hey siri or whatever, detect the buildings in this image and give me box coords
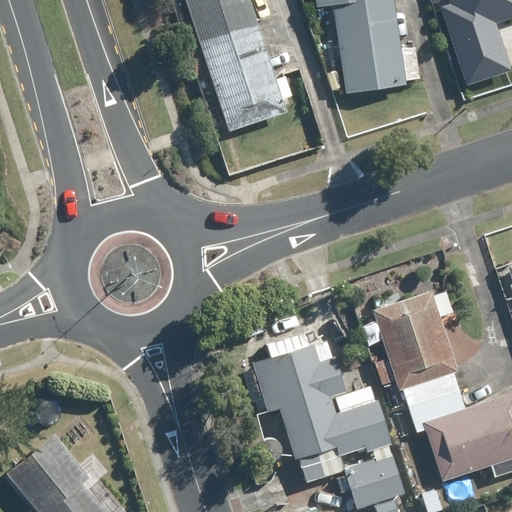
[422,490,442,512]
[252,334,391,482]
[6,435,106,512]
[186,0,288,131]
[364,292,458,390]
[376,360,391,384]
[316,0,407,93]
[424,393,512,481]
[346,446,405,512]
[442,0,512,86]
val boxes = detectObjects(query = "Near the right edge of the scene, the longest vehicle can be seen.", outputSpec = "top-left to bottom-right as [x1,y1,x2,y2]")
[462,384,492,404]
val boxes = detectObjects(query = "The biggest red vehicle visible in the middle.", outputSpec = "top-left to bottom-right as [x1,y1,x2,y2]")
[212,212,238,226]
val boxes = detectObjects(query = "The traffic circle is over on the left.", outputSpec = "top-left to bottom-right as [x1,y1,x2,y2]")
[88,230,174,316]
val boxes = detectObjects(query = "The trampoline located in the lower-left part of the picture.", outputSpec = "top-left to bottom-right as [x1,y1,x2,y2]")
[36,401,60,426]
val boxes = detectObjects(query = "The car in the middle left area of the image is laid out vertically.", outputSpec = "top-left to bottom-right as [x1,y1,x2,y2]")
[64,190,77,218]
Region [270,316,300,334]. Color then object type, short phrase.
white car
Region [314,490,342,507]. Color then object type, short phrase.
white car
